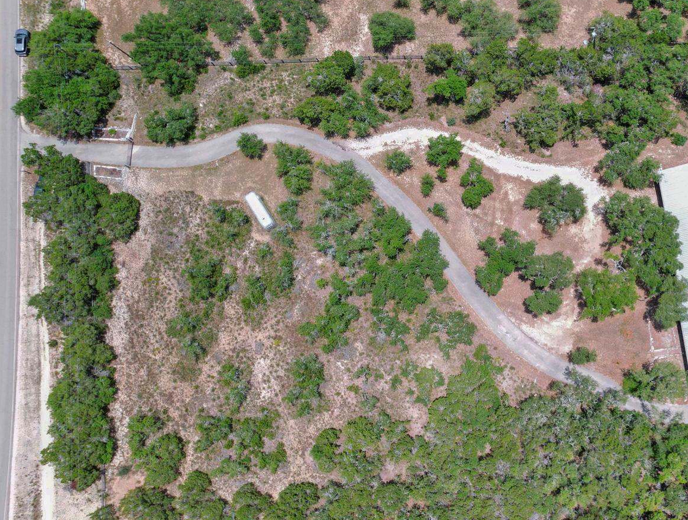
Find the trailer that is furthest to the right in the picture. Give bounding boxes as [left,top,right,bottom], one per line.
[244,191,276,230]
